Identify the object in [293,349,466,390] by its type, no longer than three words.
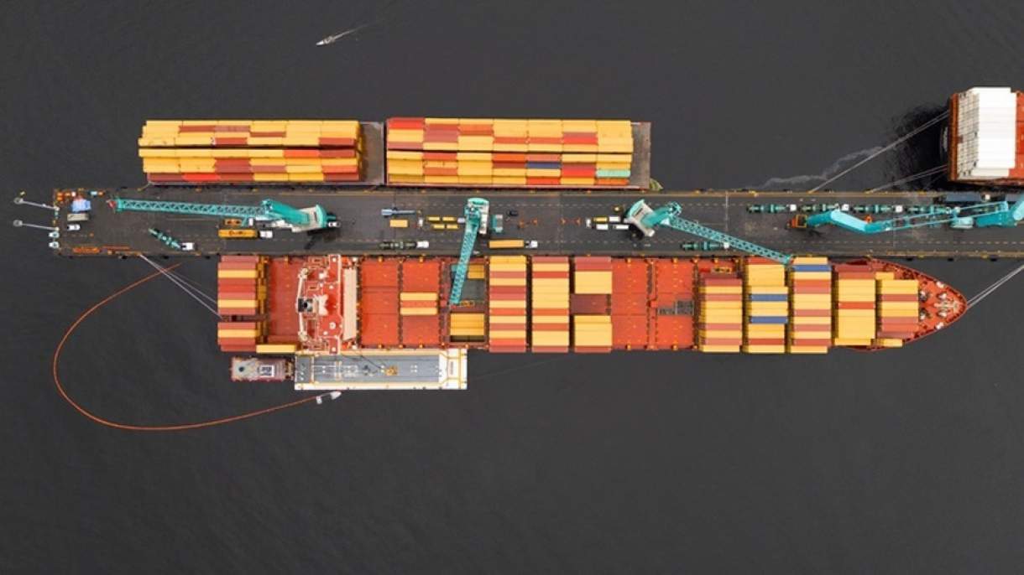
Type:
ship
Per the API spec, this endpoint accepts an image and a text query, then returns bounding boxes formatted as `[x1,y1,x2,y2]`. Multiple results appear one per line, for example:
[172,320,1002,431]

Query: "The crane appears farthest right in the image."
[792,200,1024,239]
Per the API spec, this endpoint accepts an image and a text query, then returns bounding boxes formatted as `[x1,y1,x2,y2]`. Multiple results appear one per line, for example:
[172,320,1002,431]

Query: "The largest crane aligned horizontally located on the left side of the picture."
[111,201,340,239]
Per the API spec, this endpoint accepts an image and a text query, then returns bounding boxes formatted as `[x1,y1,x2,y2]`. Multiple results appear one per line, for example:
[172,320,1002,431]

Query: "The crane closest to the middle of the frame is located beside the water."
[450,195,503,311]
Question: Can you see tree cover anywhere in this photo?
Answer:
No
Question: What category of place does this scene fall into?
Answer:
port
